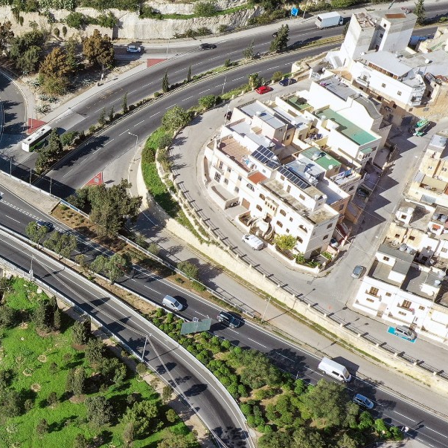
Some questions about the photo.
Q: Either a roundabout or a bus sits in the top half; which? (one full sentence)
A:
Visible in the top half is a bus.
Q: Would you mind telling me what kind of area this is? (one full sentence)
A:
This looks like a residential area.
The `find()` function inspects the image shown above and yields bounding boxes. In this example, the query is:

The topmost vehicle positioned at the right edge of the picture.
[410,115,429,138]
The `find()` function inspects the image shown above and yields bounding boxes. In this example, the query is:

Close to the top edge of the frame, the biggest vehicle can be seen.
[320,8,345,25]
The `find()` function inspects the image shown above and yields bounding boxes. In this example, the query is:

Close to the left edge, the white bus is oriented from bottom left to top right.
[19,119,55,152]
